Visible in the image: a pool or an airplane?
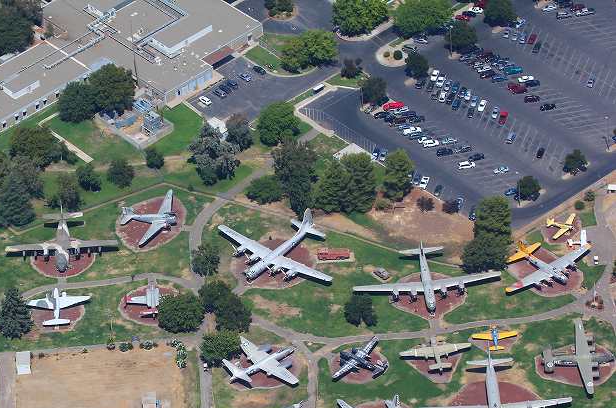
airplane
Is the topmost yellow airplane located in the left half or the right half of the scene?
right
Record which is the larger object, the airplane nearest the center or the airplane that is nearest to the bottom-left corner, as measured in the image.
the airplane nearest the center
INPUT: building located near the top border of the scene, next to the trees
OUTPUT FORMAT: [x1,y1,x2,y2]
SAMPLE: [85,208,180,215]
[0,0,263,134]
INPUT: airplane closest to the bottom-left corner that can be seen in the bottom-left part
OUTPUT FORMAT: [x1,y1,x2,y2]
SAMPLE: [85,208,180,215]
[27,287,91,322]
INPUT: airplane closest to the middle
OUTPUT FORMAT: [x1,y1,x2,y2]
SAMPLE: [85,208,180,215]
[218,214,332,283]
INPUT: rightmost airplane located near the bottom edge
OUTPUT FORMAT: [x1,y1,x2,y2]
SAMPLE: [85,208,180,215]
[543,317,615,390]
